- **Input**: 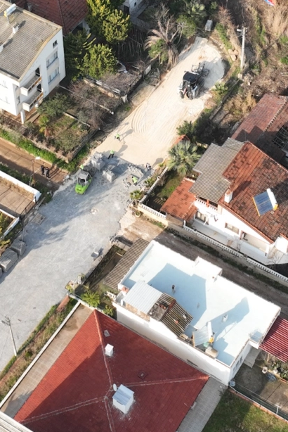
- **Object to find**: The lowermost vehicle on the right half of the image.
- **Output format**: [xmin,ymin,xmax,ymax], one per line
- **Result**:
[170,62,210,106]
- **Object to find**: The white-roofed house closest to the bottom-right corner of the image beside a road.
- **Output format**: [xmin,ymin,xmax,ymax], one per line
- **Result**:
[112,239,281,385]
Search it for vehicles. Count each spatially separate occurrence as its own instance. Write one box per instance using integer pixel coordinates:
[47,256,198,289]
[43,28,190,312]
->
[71,166,92,195]
[170,62,210,106]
